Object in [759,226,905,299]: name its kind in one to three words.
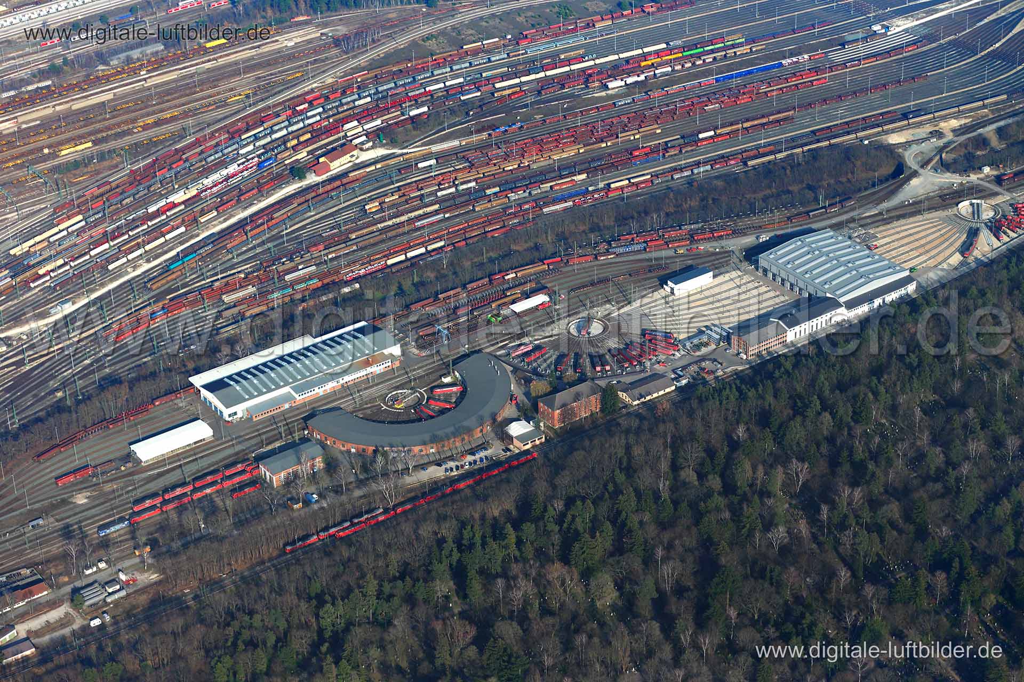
building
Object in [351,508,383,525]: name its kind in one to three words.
rail car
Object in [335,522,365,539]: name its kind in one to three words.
rail car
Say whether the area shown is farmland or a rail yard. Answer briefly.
rail yard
